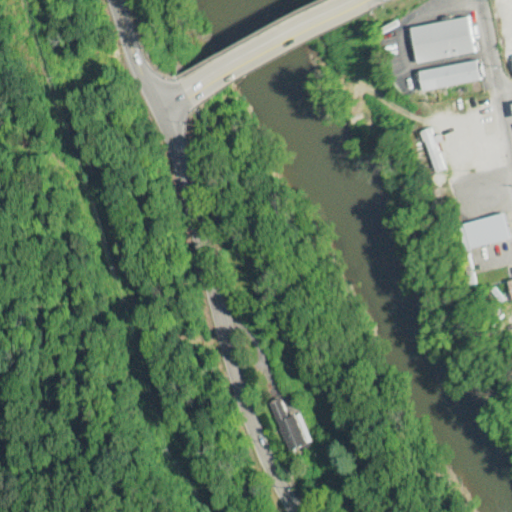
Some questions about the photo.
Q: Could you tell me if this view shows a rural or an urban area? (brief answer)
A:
rural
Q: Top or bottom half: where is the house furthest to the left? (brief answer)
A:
bottom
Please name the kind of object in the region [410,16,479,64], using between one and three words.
building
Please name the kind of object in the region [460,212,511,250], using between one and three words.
building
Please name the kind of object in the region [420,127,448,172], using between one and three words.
shed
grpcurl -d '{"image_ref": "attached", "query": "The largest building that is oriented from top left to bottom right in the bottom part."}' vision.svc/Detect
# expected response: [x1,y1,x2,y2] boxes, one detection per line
[270,398,313,450]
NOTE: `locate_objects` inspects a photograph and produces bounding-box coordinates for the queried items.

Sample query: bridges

[179,0,340,108]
